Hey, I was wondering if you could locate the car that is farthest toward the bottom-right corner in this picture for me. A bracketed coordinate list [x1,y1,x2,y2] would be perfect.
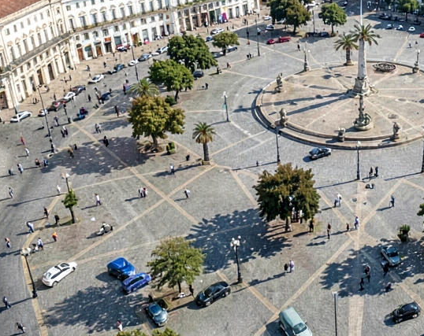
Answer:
[388,299,418,323]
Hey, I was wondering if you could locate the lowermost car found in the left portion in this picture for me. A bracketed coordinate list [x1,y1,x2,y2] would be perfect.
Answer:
[142,296,166,323]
